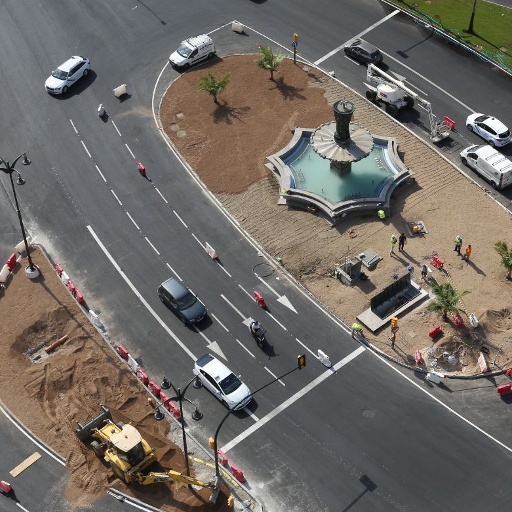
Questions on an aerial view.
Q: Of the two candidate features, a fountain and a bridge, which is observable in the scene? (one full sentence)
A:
The one in the frame is a fountain.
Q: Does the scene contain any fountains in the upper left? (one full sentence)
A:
No, no fountain is visible in the upper left.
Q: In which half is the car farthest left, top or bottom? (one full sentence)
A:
The car farthest left sits in the top half of the picture.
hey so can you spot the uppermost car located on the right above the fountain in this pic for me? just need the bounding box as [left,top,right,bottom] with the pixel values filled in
[341,38,385,66]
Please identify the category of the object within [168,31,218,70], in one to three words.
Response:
van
